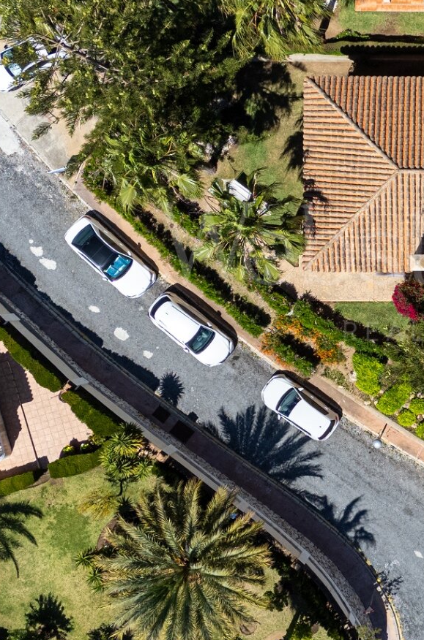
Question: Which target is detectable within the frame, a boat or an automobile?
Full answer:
The image shows an automobile.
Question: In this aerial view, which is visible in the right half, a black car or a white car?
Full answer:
What appears in the right half is a white car.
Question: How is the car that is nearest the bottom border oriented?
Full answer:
The car that is nearest the bottom border has been laid out on a diagonal relative to the frame.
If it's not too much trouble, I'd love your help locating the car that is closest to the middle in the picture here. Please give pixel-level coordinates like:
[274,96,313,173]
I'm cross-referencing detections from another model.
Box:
[142,290,243,367]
